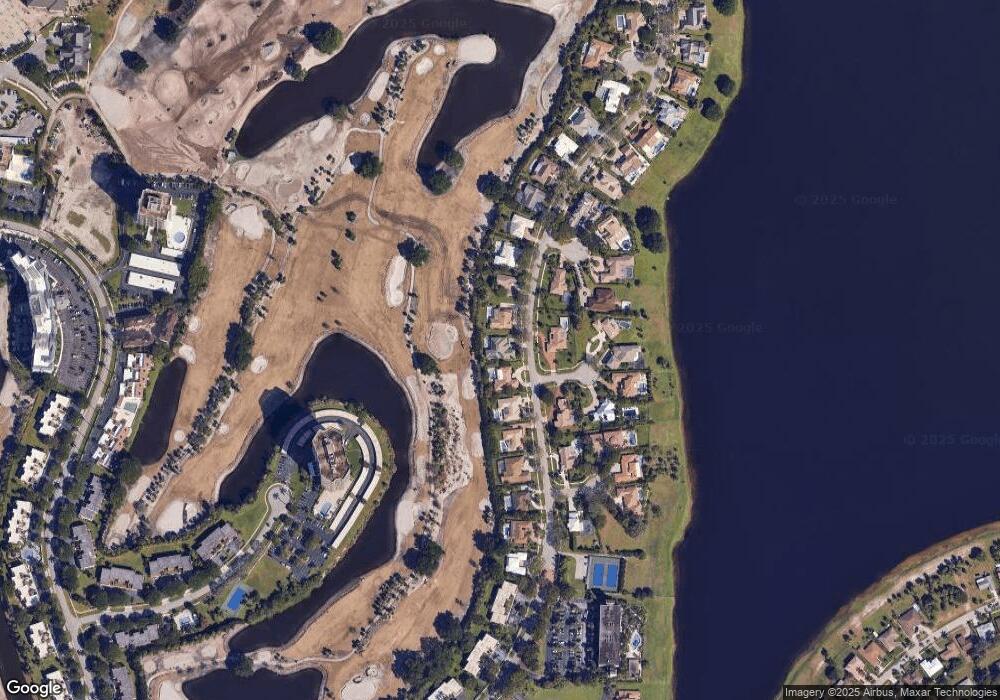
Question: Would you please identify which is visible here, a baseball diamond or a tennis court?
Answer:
tennis court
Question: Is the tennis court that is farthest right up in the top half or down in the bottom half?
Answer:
bottom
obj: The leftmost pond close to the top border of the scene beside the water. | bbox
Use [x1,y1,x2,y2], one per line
[234,0,556,194]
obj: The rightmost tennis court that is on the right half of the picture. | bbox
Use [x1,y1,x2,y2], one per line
[587,556,622,592]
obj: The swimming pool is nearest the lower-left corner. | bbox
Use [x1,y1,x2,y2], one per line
[20,550,40,565]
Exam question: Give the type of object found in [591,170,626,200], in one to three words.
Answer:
house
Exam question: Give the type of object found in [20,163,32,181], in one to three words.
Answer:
swimming pool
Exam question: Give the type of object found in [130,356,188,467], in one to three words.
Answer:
pond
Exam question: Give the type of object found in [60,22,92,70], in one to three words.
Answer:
building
